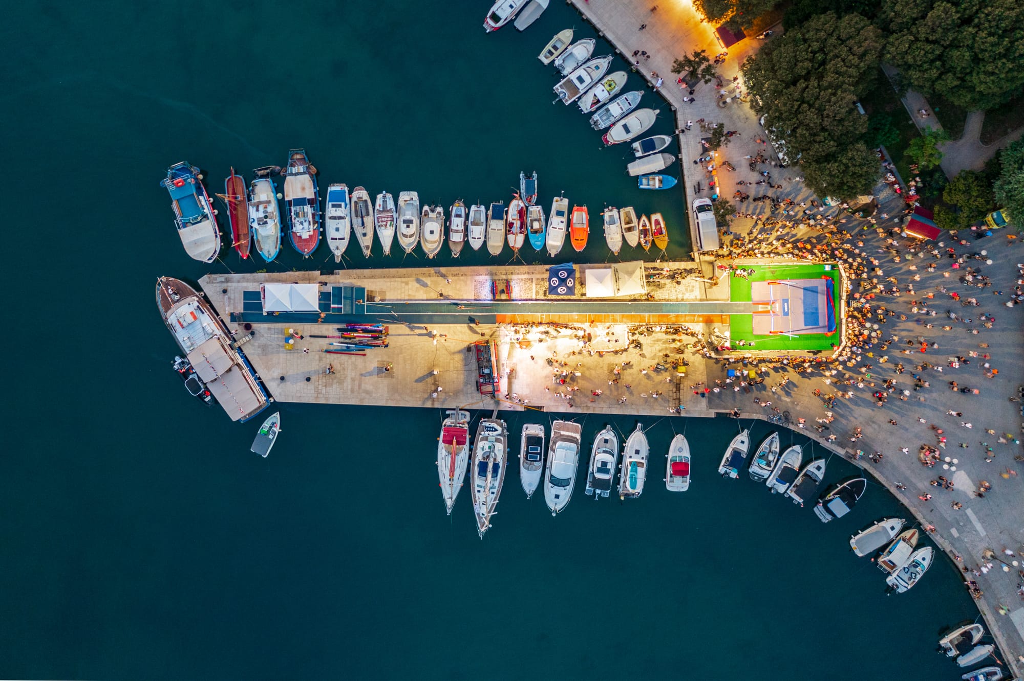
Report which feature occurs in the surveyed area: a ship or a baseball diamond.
ship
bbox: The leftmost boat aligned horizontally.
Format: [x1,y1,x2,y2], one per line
[251,163,282,175]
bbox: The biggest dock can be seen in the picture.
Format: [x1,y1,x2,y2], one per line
[198,261,730,415]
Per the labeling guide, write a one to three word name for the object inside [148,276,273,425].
ship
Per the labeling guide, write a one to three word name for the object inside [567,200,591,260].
boat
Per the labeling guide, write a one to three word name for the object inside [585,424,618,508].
boat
